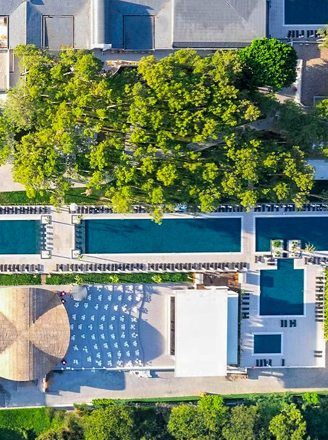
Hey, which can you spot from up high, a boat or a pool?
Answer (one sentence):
There is a pool in the scene.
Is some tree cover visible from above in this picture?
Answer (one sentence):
Yes, tree cover shows up in the scene.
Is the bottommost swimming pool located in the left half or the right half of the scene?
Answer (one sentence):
The bottommost swimming pool is on the right side of the image.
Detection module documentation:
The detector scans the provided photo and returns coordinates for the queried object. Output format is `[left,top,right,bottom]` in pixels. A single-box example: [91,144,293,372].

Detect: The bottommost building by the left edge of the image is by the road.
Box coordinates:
[0,287,70,382]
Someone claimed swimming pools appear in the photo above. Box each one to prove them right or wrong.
[283,0,328,26]
[252,333,283,355]
[72,216,243,256]
[0,218,48,256]
[253,214,328,317]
